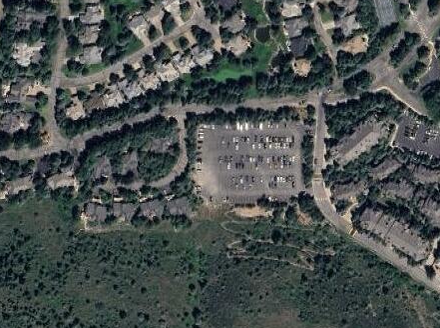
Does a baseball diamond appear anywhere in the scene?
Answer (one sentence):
No, there appears to be no baseball diamond in this shot.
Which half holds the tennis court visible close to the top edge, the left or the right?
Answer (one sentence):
The tennis court visible close to the top edge appears in the right half of the scene.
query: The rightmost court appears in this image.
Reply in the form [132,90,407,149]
[374,0,398,25]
